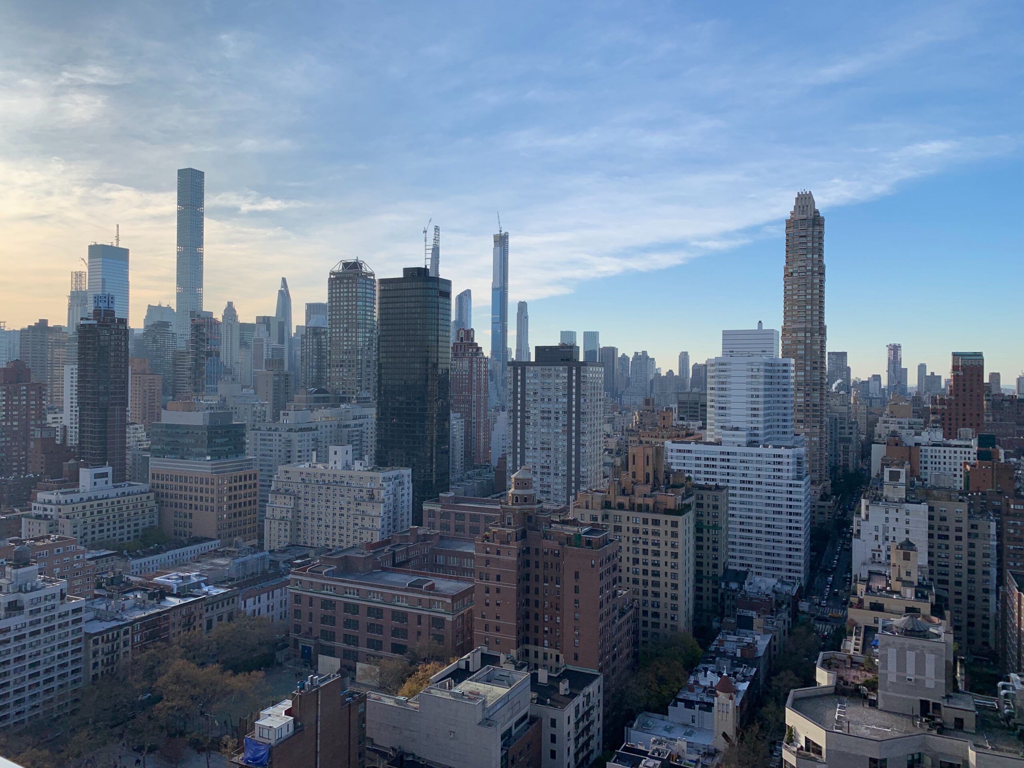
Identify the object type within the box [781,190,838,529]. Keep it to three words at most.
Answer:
building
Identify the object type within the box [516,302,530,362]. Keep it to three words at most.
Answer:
building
